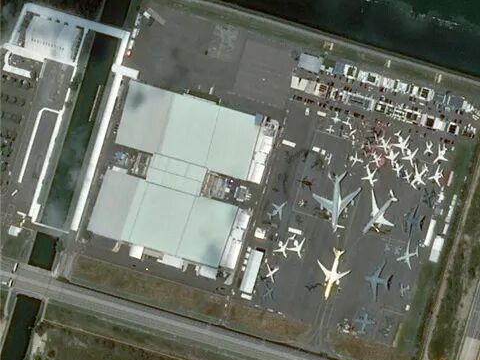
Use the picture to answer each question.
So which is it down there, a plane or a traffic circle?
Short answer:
plane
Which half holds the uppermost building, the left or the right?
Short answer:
left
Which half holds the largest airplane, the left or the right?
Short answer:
right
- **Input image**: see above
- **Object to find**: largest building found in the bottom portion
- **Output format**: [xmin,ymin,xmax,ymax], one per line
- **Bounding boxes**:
[87,170,239,268]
